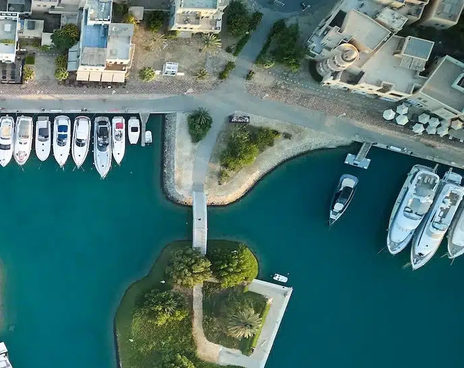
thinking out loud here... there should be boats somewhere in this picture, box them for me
[0,114,14,171]
[0,353,13,368]
[126,118,140,144]
[92,114,113,179]
[389,159,440,255]
[71,114,91,176]
[34,115,52,160]
[112,115,126,166]
[411,164,464,271]
[272,273,288,282]
[13,113,33,175]
[146,130,152,145]
[326,166,360,234]
[447,188,464,259]
[52,114,72,172]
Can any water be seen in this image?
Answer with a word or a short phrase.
Yes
